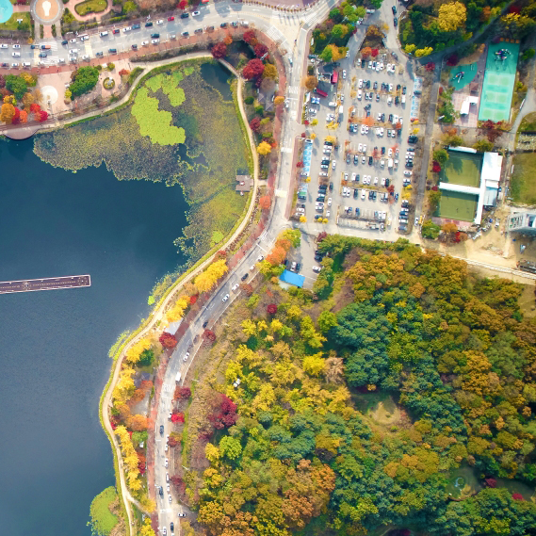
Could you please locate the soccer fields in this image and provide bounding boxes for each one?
[433,190,479,221]
[440,152,481,188]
